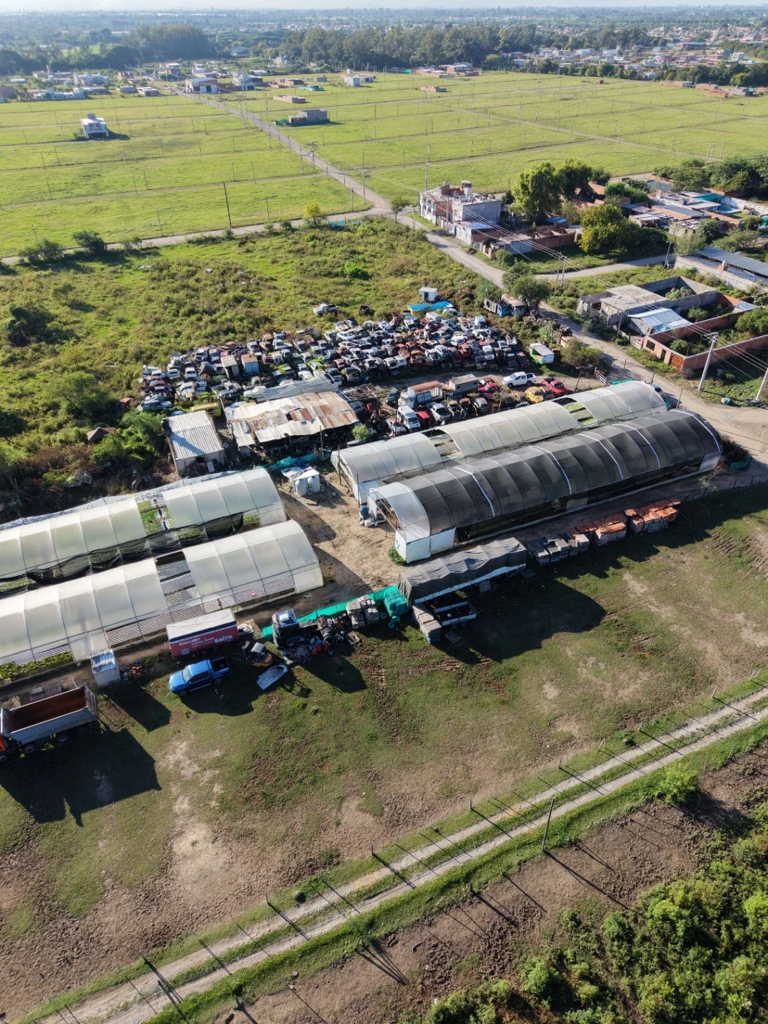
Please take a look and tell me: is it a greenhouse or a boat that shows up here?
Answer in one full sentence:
Of the two, only a greenhouse appears.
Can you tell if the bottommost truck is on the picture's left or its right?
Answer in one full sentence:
It is on the left.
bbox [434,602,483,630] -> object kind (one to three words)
trailer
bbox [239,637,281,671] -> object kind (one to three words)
work vehicle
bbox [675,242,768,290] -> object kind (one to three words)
shed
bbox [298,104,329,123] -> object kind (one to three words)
house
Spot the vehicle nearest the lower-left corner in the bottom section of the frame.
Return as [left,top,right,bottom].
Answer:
[0,684,102,767]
